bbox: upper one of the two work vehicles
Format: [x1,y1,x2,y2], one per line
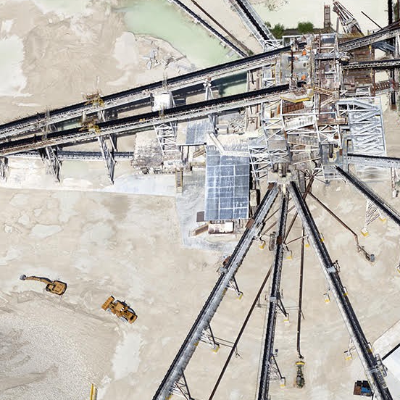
[19,274,69,292]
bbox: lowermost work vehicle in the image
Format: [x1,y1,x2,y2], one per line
[100,295,137,320]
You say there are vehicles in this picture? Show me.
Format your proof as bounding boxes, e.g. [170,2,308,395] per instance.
[19,274,69,292]
[100,295,137,320]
